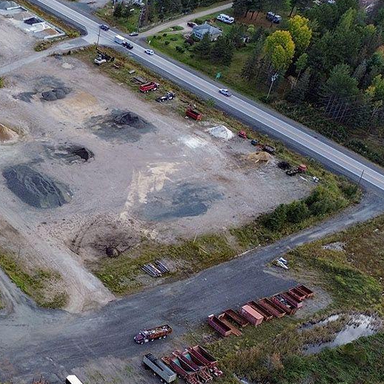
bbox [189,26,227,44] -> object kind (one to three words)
house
